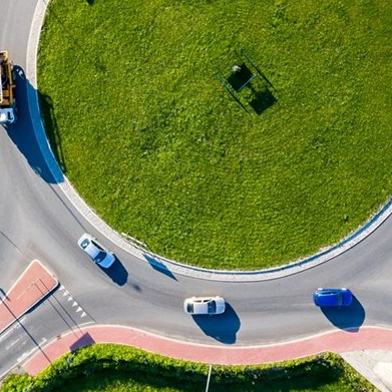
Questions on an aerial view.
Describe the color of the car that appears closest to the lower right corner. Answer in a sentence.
The car that appears closest to the lower right corner is blue.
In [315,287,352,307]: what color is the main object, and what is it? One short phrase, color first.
blue car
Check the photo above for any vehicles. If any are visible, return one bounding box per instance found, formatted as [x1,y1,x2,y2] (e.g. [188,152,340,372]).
[0,49,20,124]
[315,287,352,307]
[78,232,115,266]
[186,295,224,315]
